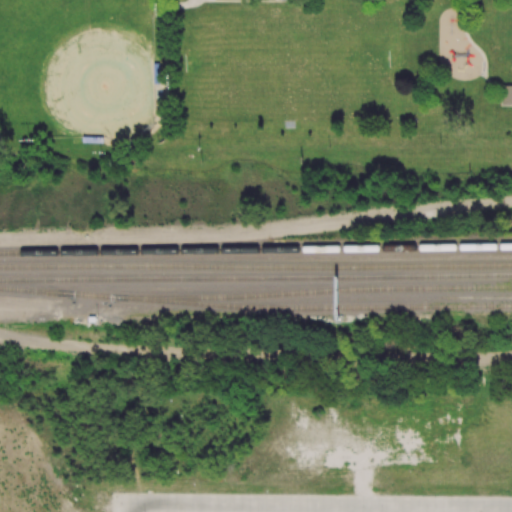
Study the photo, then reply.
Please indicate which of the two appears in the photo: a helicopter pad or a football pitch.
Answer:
football pitch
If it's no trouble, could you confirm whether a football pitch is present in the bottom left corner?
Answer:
No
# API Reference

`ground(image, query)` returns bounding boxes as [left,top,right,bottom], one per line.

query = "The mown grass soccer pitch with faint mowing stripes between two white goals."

[184,7,392,118]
